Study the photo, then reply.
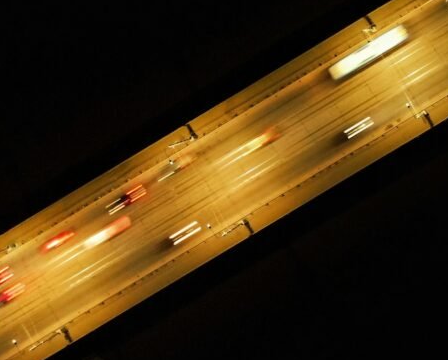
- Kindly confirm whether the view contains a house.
No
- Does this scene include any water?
Yes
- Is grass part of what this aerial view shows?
No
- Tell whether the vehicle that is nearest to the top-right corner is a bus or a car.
bus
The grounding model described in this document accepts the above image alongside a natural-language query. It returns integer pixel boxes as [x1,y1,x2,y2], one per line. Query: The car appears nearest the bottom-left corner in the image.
[0,288,18,306]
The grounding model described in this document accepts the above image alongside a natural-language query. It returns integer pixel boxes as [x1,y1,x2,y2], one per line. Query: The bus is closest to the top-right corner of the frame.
[327,25,408,82]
